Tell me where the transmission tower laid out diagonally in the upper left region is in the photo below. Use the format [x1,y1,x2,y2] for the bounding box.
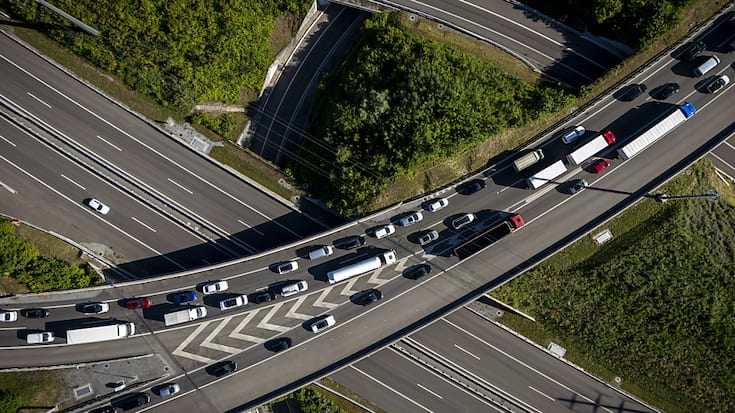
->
[40,0,103,38]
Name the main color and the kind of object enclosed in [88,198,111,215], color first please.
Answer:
white car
